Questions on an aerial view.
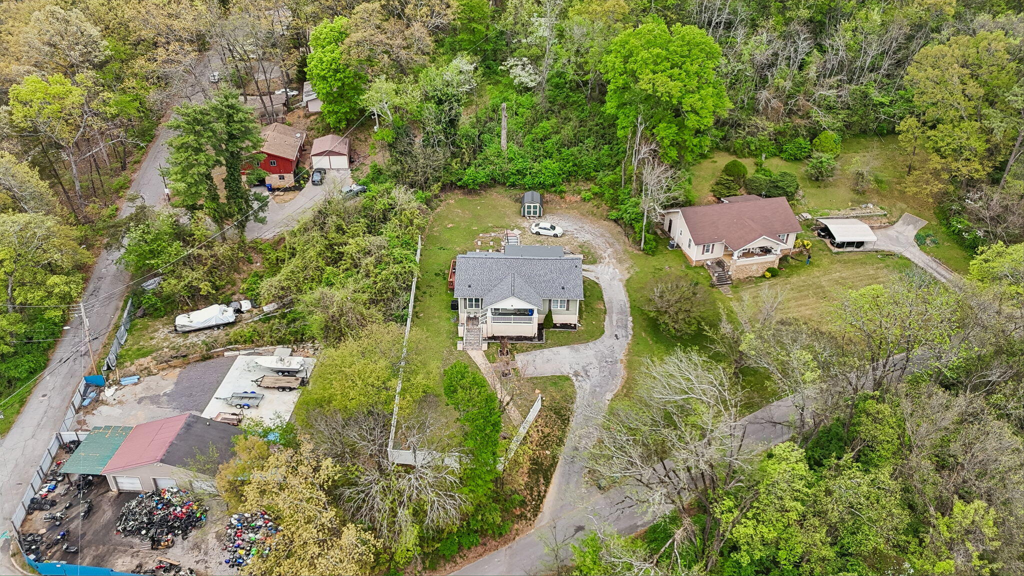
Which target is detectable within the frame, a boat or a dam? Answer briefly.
boat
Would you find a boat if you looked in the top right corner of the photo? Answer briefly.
No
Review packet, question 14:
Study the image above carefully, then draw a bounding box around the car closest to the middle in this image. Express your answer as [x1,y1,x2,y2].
[529,221,563,237]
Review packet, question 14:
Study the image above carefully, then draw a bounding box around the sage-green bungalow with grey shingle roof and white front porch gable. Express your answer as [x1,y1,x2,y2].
[445,245,585,350]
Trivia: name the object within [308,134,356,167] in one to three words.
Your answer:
building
